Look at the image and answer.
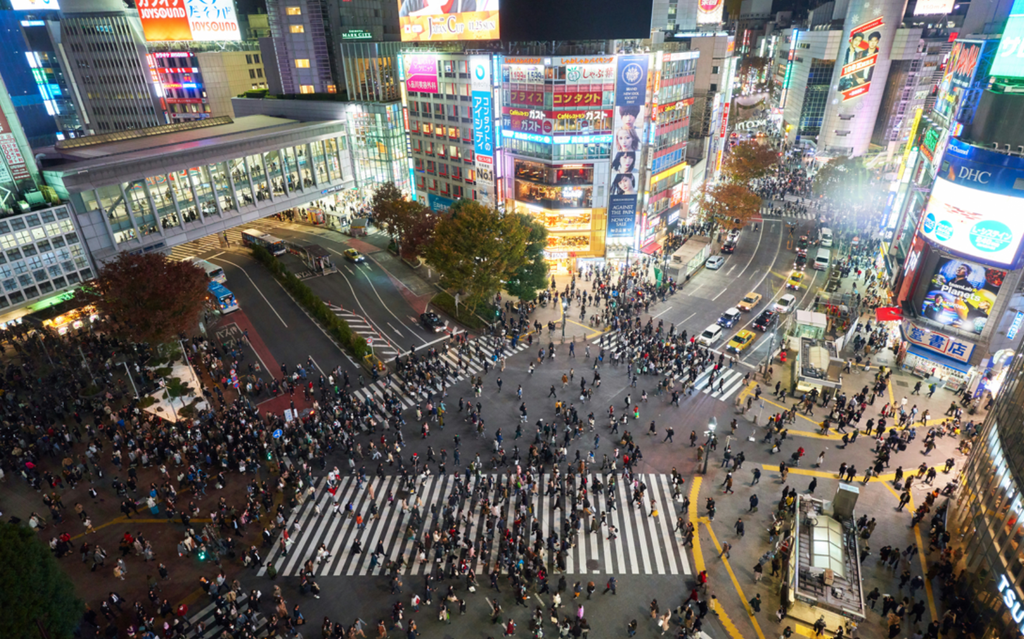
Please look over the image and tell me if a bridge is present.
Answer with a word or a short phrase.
Yes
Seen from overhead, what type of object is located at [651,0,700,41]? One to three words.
building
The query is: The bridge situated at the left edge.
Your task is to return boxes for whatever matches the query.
[9,108,356,264]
